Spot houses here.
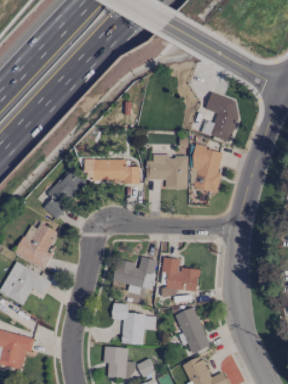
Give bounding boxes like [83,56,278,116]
[110,304,156,346]
[112,259,156,295]
[104,348,135,380]
[0,332,34,368]
[0,262,49,306]
[83,158,142,185]
[43,174,86,221]
[197,92,244,142]
[182,356,230,384]
[190,144,221,194]
[146,156,188,190]
[16,221,62,274]
[159,258,200,296]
